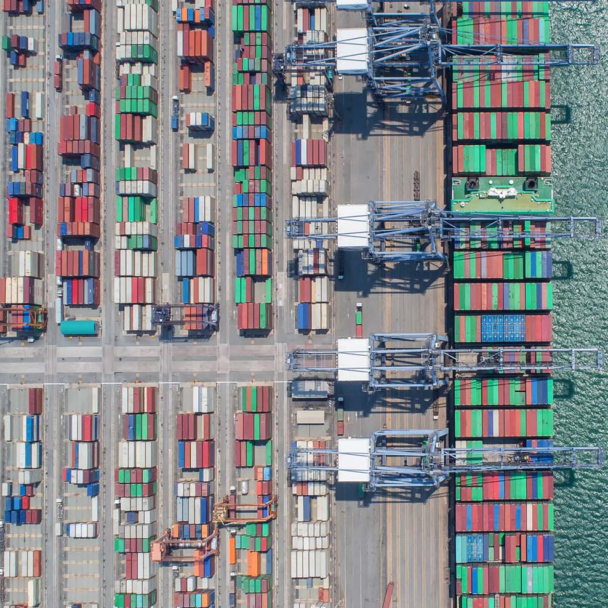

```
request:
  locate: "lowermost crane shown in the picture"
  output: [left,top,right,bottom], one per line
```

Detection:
[148,527,217,562]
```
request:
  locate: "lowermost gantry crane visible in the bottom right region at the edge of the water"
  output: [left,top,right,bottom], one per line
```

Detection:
[280,421,603,491]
